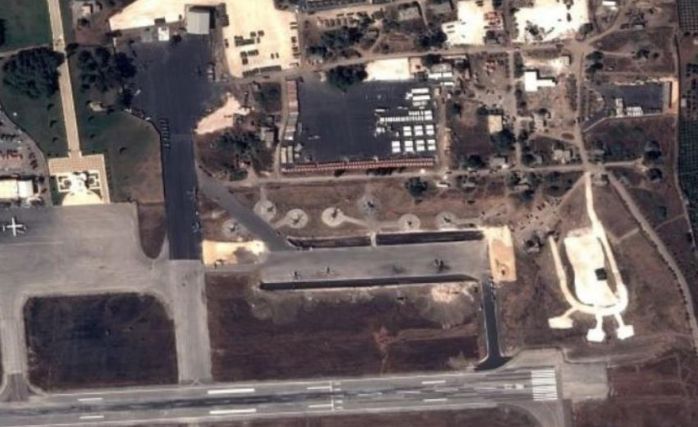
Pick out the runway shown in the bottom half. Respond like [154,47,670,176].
[0,367,564,427]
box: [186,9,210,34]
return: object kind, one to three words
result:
hangar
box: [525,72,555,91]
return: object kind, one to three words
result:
house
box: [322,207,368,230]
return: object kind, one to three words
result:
helipad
